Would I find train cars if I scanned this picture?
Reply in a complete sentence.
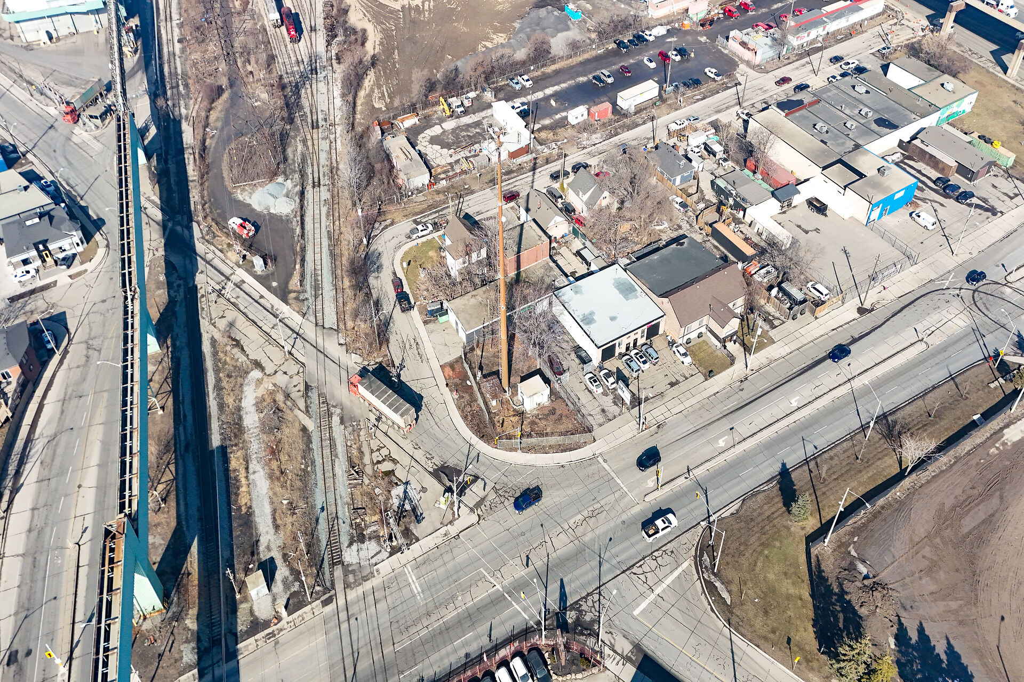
Yes, the image includes a train car.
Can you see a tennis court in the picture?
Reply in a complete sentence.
No, the scene contains no tennis court.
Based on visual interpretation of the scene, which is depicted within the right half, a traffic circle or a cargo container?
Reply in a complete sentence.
The feature located within the right half is a cargo container.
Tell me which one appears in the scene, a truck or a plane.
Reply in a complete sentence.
Of the two, only a truck appears.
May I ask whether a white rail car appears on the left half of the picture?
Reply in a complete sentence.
Yes, a white rail car can be seen on the left half of the picture.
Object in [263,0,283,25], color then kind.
white rail car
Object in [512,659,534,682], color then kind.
white car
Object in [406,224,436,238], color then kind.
white vehicle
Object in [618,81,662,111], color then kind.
white trailer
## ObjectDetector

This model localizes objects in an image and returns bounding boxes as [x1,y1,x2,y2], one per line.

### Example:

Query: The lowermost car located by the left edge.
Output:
[41,330,57,350]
